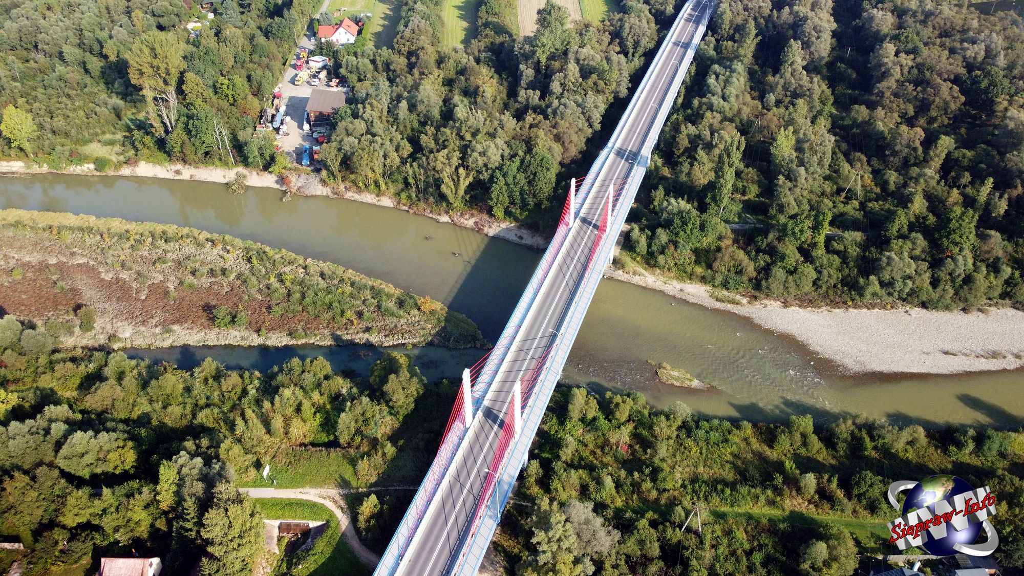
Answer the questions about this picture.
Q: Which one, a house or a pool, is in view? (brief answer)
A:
house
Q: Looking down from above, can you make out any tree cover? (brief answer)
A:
Yes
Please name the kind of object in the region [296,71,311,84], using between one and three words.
vehicle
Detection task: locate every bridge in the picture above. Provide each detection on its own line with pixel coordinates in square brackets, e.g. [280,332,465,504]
[369,0,718,576]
